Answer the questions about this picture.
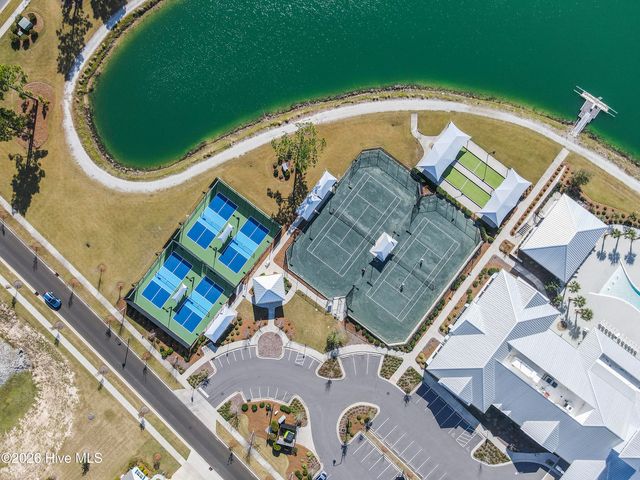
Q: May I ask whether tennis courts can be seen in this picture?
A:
Yes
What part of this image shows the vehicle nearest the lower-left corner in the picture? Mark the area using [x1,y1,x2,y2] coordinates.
[41,292,61,308]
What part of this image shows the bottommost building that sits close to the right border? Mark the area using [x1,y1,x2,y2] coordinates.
[427,269,640,480]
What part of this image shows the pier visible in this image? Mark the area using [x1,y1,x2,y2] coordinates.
[569,86,618,140]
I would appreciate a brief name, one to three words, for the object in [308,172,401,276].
tennis court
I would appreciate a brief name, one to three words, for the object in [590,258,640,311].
swimming pool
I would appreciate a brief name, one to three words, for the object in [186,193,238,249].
sports court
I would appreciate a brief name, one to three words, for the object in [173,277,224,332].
sports court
